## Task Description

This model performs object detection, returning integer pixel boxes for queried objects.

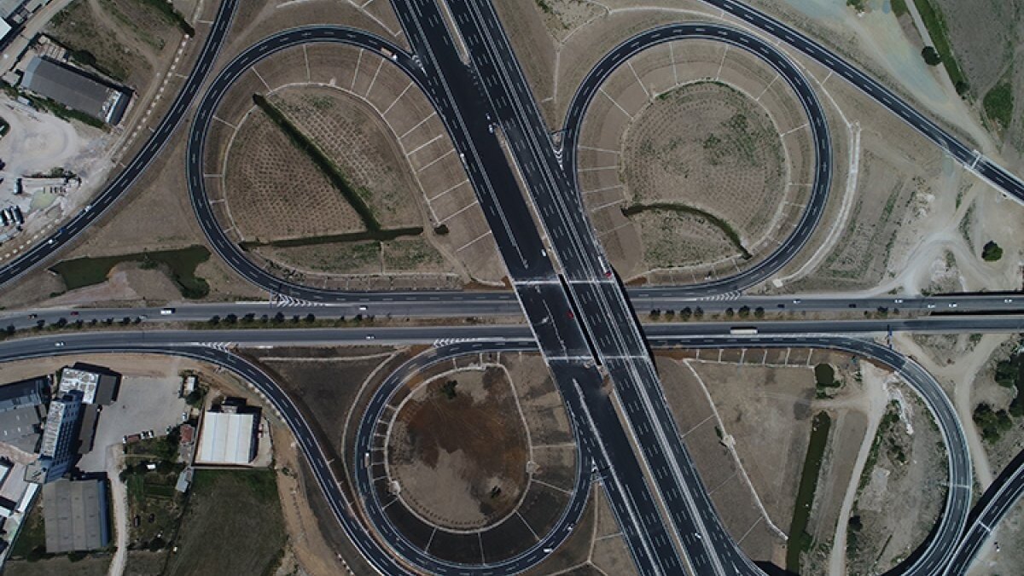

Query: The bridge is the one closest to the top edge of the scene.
[973,157,1024,204]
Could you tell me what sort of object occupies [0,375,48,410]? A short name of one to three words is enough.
building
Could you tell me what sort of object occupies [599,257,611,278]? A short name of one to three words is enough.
vehicle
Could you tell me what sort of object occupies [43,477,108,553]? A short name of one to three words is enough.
building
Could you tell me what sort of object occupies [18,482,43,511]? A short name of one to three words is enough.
shed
